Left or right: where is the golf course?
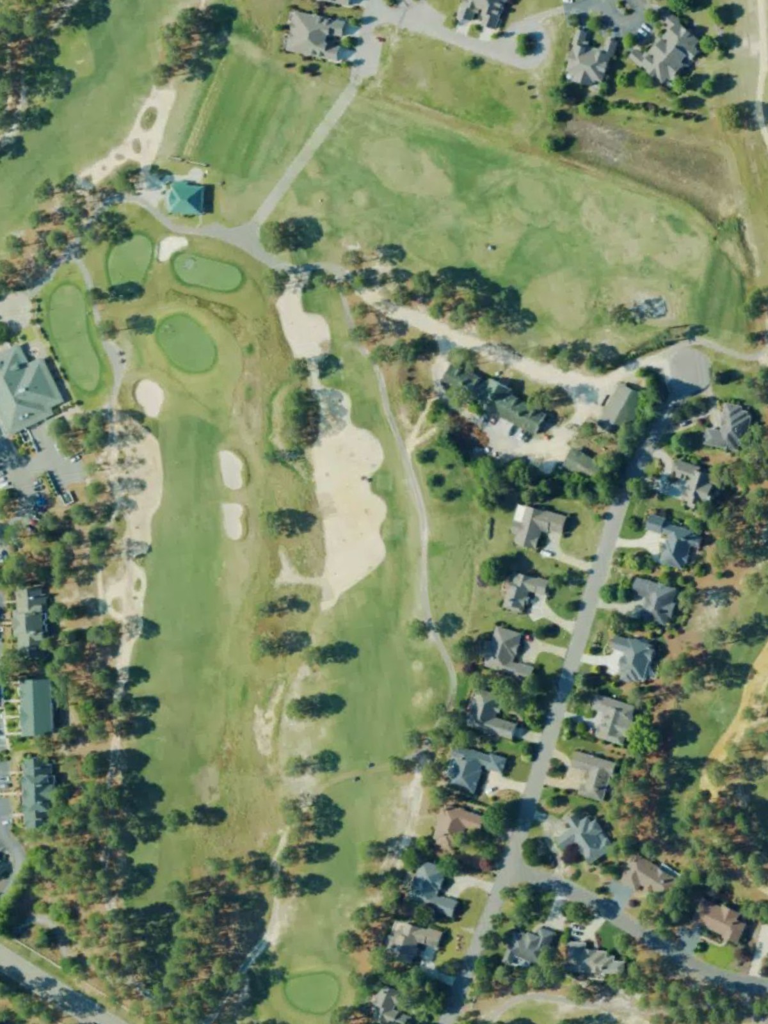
left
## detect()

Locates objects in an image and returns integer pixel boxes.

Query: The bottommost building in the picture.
[369,986,417,1024]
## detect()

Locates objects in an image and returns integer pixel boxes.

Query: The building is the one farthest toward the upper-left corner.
[166,182,203,214]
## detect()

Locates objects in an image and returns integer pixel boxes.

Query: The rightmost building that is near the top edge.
[627,14,702,83]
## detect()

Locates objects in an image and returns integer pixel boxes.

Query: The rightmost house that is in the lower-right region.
[696,900,754,952]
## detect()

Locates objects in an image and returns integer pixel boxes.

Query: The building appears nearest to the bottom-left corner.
[20,757,55,830]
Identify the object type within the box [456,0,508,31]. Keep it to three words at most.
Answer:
house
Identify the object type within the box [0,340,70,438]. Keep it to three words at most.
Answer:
building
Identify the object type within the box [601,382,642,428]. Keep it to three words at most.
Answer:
shed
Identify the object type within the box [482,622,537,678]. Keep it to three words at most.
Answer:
house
